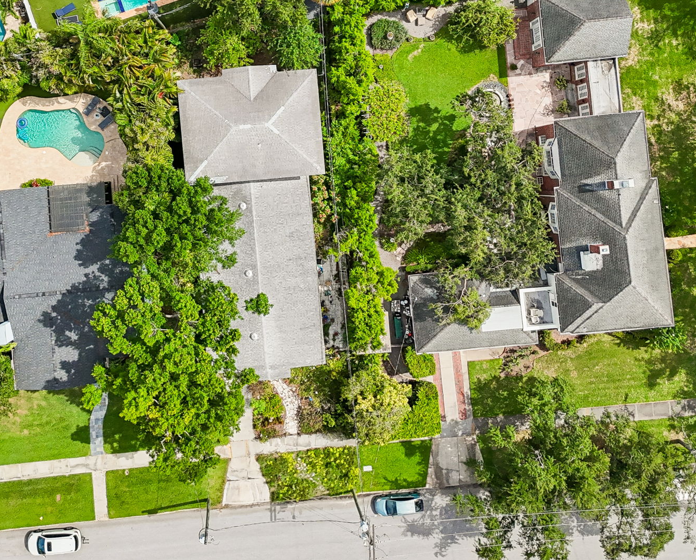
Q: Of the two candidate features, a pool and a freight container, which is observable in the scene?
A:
pool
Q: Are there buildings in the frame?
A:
Yes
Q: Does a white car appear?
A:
Yes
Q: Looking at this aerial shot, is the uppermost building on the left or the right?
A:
right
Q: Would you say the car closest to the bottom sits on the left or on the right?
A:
left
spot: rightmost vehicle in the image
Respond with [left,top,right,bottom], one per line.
[373,490,423,520]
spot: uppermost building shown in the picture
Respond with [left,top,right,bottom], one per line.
[525,0,634,65]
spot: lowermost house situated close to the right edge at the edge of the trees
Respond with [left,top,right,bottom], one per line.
[530,110,675,335]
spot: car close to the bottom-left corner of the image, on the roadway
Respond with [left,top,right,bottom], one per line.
[24,526,84,560]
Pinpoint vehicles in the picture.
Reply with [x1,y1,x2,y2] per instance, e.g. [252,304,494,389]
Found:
[373,490,423,520]
[24,526,84,560]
